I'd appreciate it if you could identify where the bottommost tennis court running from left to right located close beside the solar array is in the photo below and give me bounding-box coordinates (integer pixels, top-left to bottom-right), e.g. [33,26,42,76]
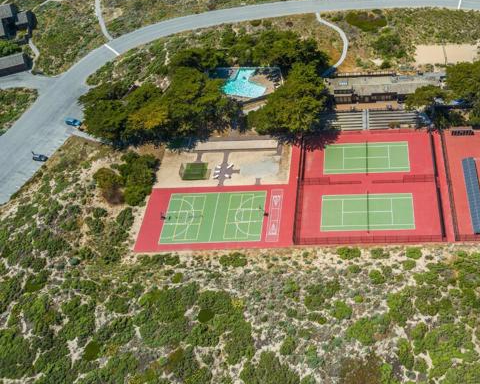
[294,181,448,247]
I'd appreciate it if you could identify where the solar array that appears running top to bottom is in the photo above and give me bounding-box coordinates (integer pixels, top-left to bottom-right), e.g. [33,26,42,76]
[461,156,480,235]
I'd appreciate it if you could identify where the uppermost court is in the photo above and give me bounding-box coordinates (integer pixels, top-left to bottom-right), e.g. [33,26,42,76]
[298,128,439,185]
